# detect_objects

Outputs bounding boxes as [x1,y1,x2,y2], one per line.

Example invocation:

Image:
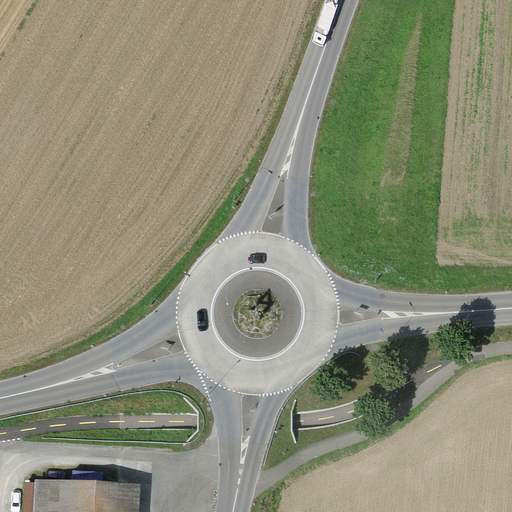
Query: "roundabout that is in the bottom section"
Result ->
[176,231,340,401]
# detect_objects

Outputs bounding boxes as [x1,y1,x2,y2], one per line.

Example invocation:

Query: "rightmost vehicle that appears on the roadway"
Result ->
[311,0,337,47]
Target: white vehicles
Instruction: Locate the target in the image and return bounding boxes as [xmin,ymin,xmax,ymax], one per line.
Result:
[311,0,337,47]
[10,490,21,512]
